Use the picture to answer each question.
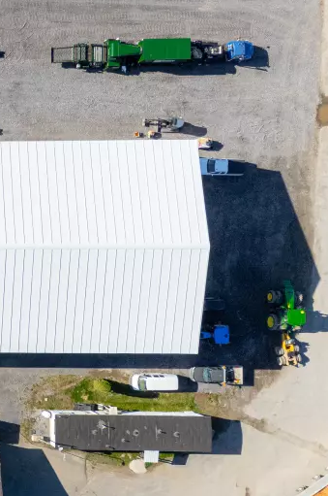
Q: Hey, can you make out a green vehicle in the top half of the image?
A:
Yes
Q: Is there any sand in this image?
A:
No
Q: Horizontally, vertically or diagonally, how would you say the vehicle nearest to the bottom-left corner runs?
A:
horizontally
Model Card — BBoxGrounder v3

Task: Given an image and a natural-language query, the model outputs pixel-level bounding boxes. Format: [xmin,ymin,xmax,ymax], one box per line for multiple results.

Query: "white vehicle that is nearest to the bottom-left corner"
[128,372,182,394]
